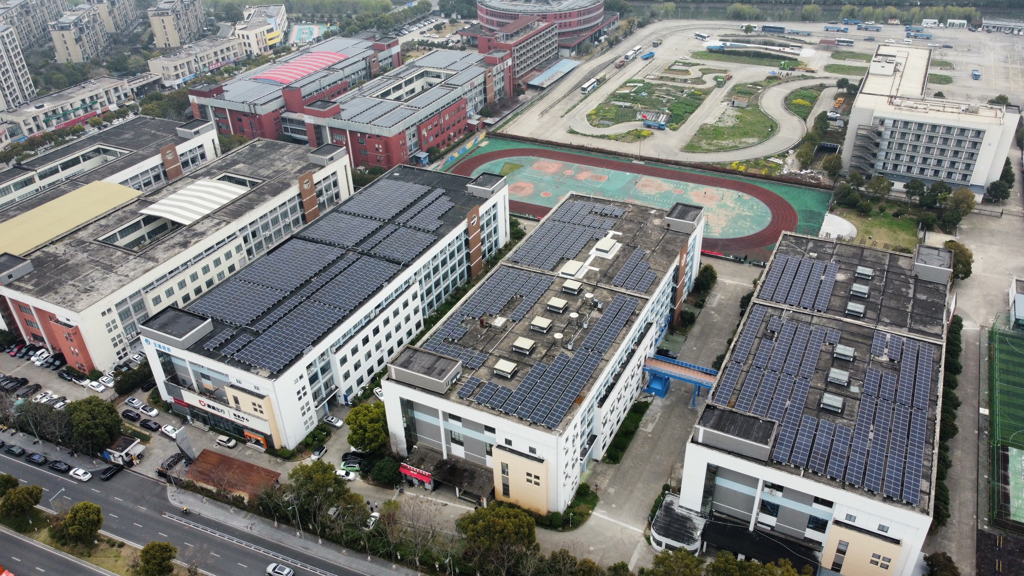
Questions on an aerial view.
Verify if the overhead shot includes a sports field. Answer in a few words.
Yes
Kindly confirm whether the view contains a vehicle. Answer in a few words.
Yes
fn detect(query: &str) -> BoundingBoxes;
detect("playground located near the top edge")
[284,25,340,44]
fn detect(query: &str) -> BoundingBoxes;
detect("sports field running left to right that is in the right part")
[433,135,832,270]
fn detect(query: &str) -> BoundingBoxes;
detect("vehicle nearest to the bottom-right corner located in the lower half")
[656,346,678,361]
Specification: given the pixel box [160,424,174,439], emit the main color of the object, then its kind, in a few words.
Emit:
white car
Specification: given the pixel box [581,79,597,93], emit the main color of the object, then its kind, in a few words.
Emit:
white vehicle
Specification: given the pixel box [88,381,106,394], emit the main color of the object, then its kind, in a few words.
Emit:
white vehicle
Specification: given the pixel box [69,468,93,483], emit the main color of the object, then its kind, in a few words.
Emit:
white car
